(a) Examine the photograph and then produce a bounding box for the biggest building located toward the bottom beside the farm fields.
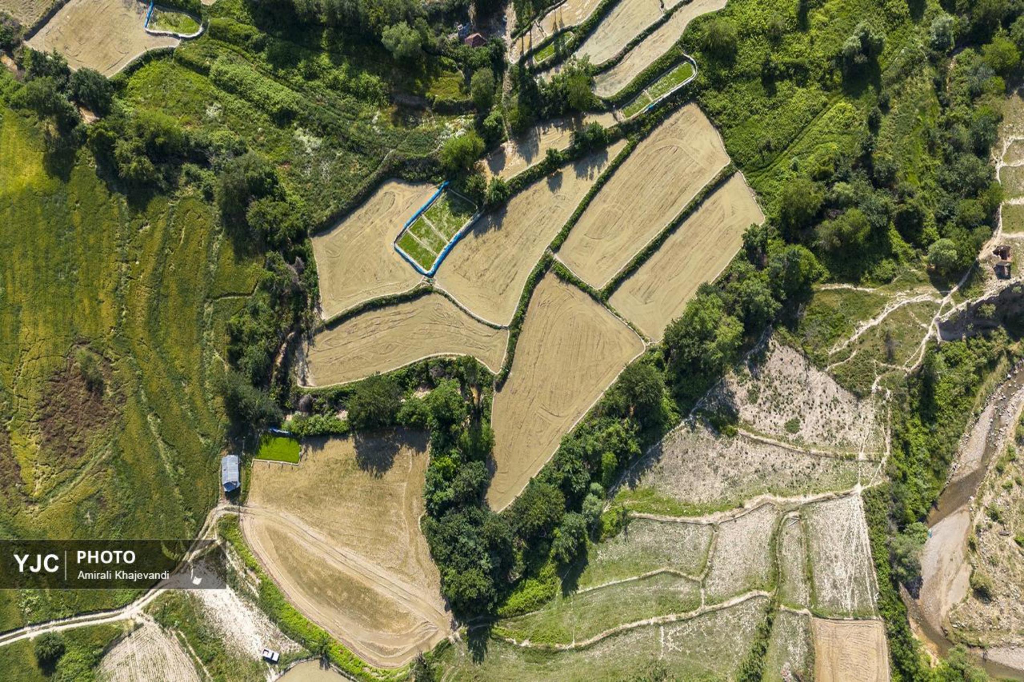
[221,457,242,496]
